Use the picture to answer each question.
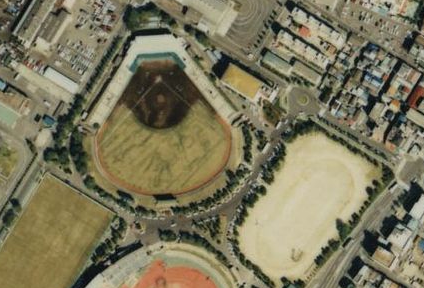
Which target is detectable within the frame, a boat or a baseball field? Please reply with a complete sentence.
Of the two, only a baseball field appears.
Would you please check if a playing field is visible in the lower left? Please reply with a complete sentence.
Yes, you'll find a playing field in the lower left.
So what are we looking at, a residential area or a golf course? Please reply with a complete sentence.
What you see here is a residential area.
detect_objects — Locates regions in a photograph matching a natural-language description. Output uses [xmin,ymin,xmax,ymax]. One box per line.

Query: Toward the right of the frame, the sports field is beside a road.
[239,132,382,283]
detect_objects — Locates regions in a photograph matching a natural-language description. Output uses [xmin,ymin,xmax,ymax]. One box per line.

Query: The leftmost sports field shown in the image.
[0,171,120,288]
